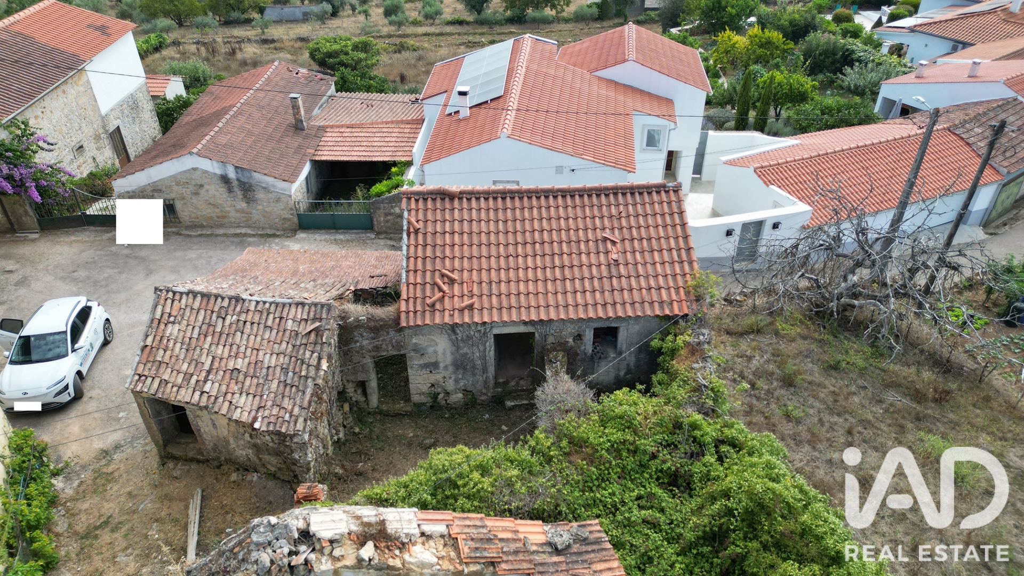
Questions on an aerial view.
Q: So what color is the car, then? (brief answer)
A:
white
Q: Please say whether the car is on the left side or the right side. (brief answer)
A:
left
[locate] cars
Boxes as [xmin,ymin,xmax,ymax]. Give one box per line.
[0,297,111,414]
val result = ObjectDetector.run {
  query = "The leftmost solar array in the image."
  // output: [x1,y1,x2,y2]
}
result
[445,34,515,111]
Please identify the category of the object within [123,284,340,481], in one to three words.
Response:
shed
